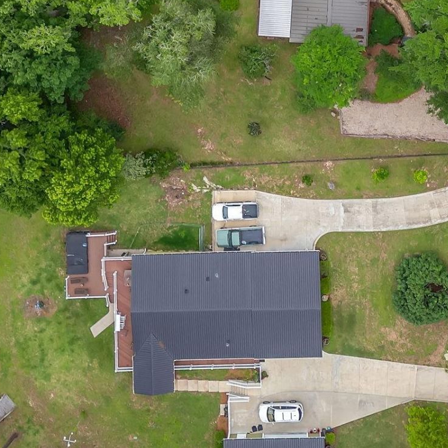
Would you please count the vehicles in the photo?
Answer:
3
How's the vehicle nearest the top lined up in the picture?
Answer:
from side to side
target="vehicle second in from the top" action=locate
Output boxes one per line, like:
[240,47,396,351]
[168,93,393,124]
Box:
[217,227,266,248]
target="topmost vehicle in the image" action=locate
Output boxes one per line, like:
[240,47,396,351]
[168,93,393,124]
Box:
[211,201,258,222]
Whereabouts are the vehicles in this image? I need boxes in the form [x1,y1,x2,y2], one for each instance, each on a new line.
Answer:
[211,201,258,222]
[259,400,301,423]
[217,227,266,248]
